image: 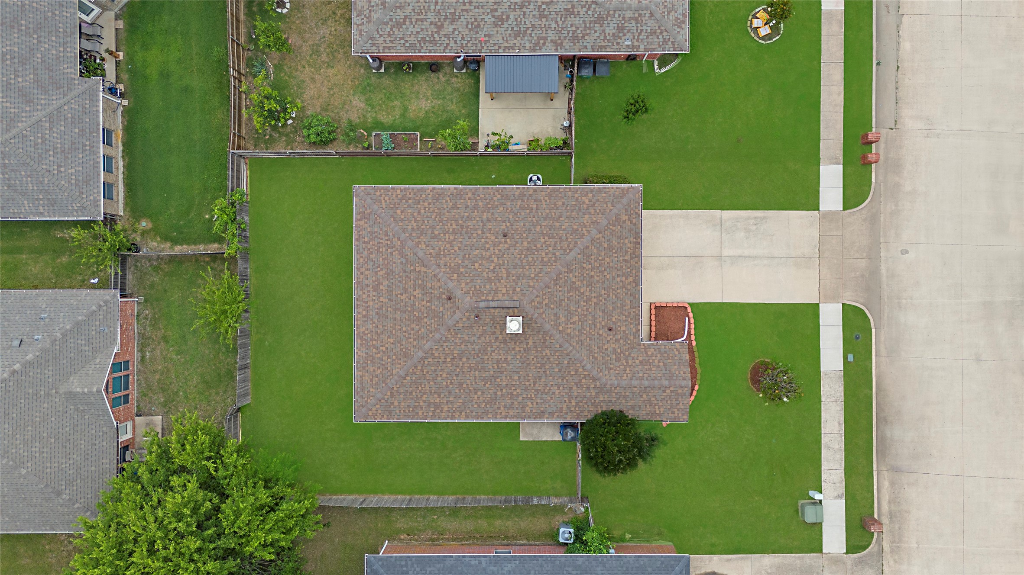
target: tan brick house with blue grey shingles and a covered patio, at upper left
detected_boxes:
[0,0,134,220]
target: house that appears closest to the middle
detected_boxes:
[353,185,693,422]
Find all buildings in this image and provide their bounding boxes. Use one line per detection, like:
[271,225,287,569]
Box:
[365,539,690,575]
[353,185,693,422]
[0,289,149,534]
[0,0,134,220]
[352,0,689,64]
